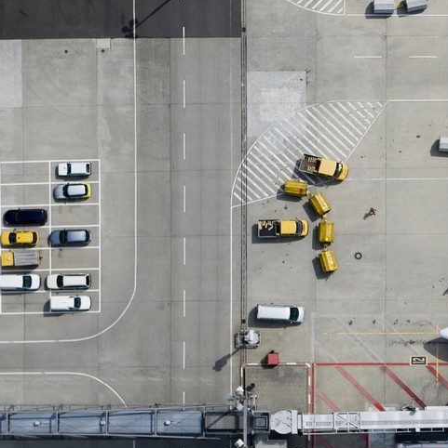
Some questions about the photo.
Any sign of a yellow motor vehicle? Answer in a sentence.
Yes, you can see a yellow motor vehicle in this photo.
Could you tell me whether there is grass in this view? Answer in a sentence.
No, no grass is visible.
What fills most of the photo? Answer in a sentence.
What you mostly see from above here is paved ground.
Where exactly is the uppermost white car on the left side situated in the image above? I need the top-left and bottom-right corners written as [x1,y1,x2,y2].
[58,160,92,177]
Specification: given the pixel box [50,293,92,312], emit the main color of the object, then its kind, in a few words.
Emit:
white vehicle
